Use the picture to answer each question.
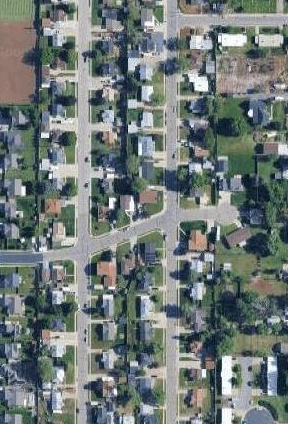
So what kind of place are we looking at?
residential area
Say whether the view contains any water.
No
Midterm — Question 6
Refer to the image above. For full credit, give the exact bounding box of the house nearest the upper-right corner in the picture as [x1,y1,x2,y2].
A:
[259,33,283,46]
